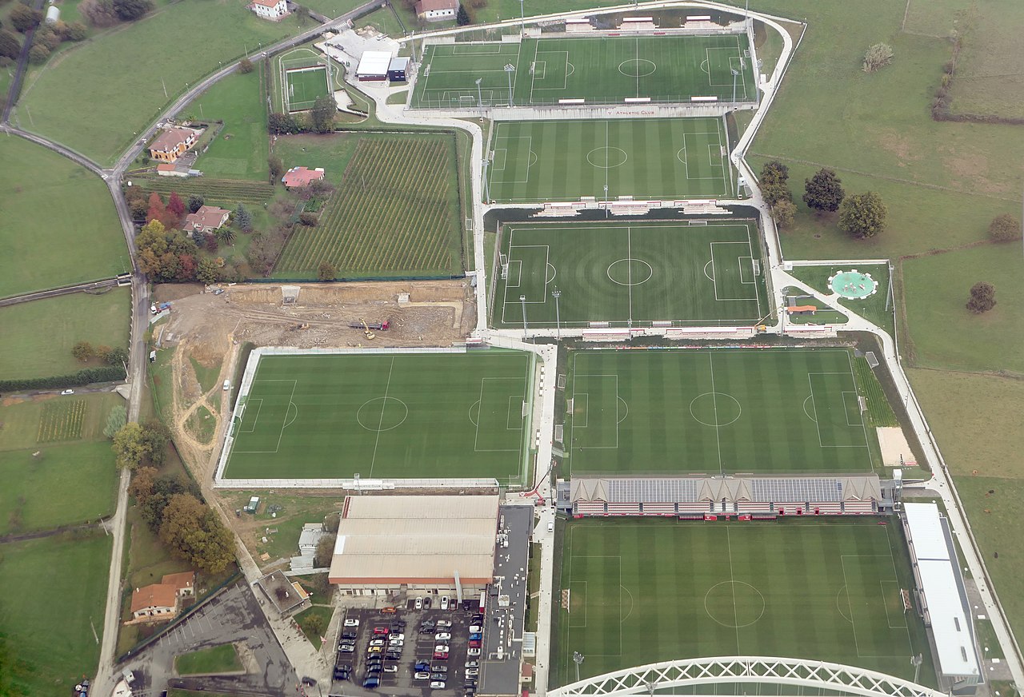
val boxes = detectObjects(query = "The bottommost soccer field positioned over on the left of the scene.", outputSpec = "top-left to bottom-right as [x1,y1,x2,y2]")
[217,351,537,482]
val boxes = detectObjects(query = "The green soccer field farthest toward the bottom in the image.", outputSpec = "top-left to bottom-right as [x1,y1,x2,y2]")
[552,520,943,697]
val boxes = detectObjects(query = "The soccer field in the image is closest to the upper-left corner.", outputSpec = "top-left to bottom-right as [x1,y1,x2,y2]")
[288,61,330,112]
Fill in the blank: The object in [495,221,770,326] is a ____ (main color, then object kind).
green soccer field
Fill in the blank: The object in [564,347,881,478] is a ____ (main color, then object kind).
green soccer field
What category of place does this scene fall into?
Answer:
sports ground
